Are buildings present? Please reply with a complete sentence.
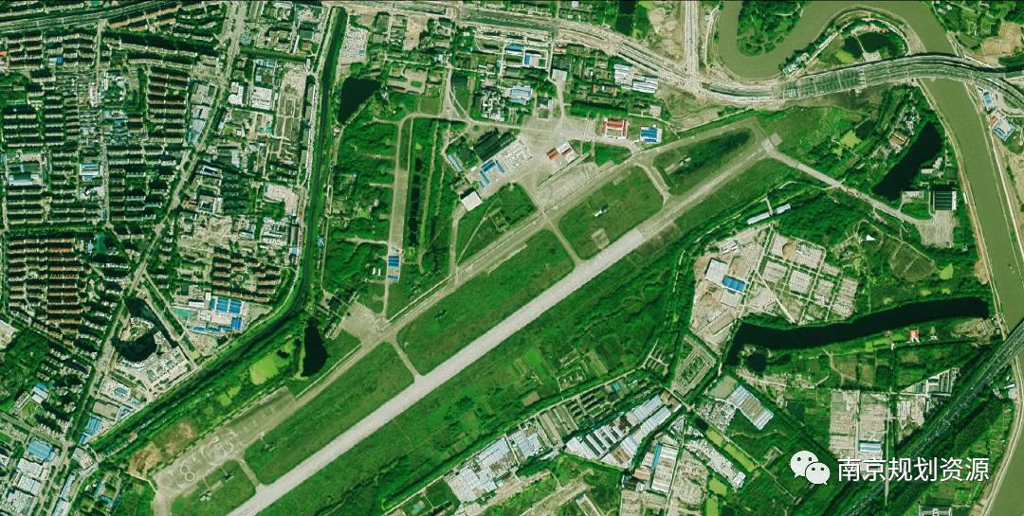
Yes, there's a building here.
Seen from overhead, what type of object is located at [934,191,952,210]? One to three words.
hangar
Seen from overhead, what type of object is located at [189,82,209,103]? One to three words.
building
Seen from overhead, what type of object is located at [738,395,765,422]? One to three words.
greenhouse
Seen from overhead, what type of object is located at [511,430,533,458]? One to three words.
building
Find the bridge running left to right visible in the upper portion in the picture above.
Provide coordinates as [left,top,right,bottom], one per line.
[770,54,1024,112]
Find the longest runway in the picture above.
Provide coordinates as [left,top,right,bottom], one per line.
[247,128,774,515]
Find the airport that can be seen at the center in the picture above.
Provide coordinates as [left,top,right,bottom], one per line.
[149,107,956,516]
